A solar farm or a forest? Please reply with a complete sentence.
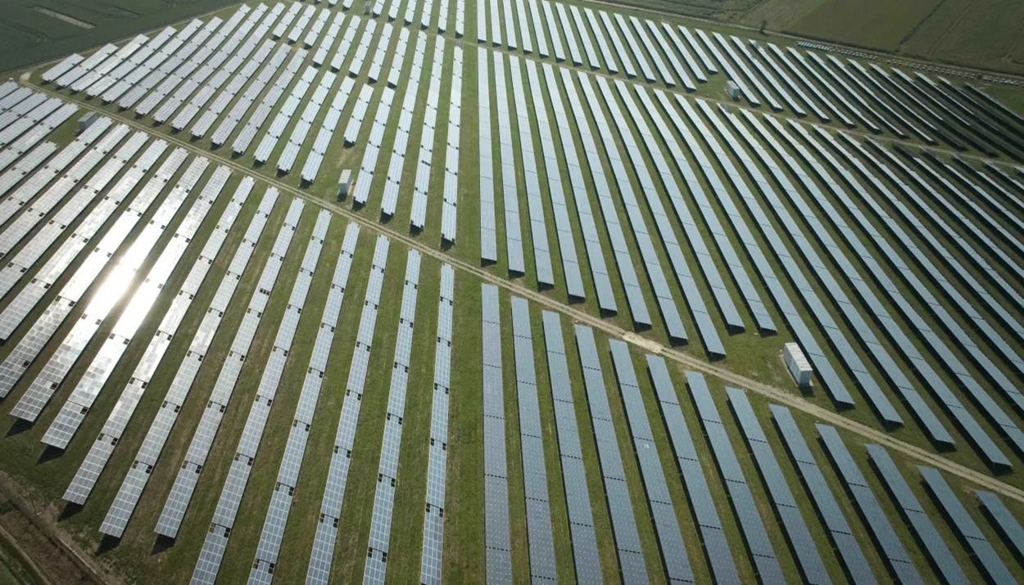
It's a solar farm.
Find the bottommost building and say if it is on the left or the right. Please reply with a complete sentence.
You can find the bottommost building on the right side of the picture.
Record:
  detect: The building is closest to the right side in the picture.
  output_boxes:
[777,342,814,383]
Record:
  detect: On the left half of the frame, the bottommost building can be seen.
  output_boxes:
[338,169,356,193]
